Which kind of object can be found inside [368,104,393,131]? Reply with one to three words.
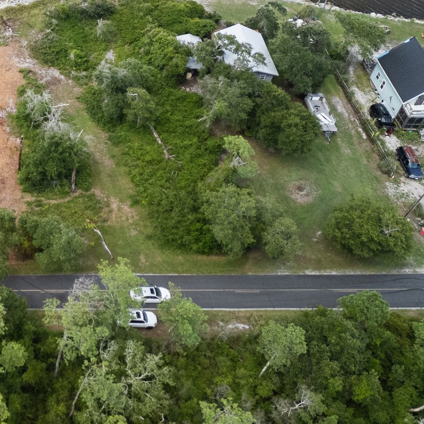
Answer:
car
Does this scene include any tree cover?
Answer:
Yes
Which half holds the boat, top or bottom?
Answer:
top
